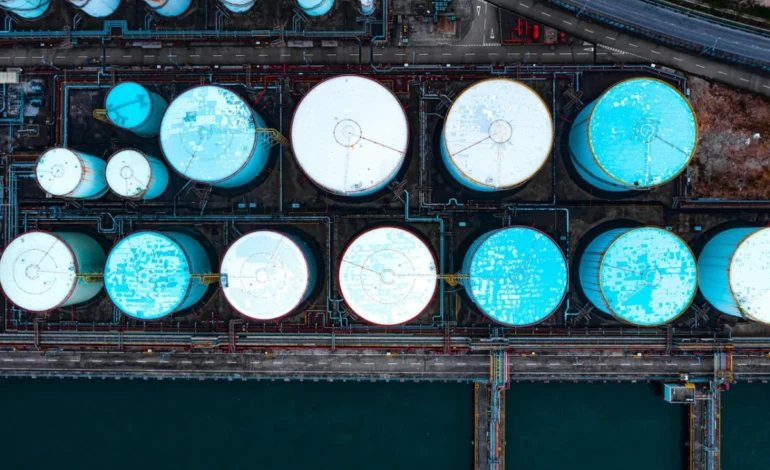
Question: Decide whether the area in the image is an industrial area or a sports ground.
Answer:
industrial area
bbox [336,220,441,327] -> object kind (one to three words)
storage tank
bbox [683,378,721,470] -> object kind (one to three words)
pier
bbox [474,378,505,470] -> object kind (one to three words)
pier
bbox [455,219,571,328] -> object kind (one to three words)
storage tank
